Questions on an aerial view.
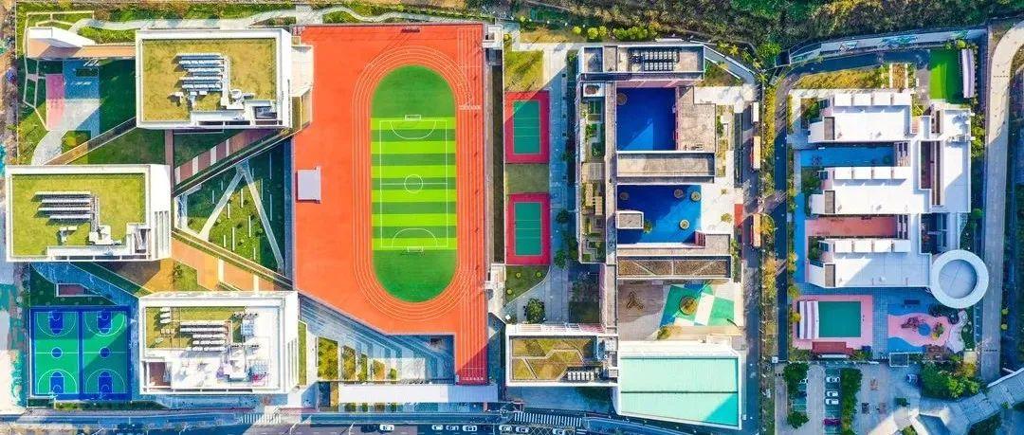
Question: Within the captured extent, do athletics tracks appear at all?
Yes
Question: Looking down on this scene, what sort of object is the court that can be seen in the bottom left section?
basketball court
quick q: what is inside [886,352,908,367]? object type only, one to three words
shed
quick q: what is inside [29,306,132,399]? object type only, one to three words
basketball court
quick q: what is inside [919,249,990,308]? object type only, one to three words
building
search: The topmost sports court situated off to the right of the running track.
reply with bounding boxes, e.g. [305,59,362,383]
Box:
[505,91,549,164]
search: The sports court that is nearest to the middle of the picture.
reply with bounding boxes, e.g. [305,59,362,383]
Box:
[505,193,551,266]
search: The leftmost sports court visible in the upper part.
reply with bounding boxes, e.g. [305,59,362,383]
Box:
[46,74,64,131]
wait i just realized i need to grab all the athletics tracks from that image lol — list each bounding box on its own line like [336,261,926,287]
[292,23,491,383]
